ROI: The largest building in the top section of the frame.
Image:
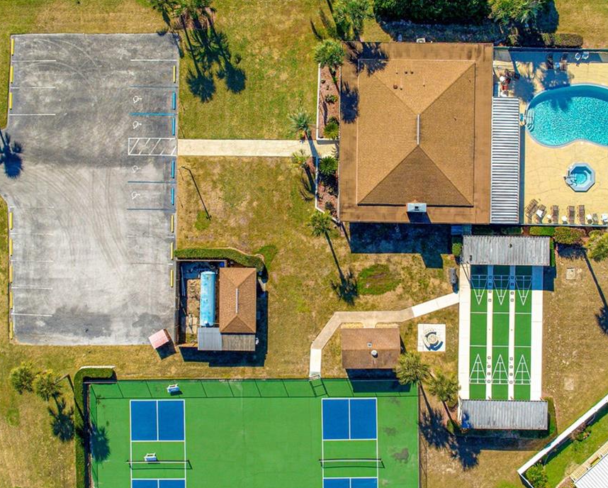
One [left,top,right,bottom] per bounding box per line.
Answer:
[338,42,493,224]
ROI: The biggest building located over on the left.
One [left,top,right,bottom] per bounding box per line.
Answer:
[198,267,257,350]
